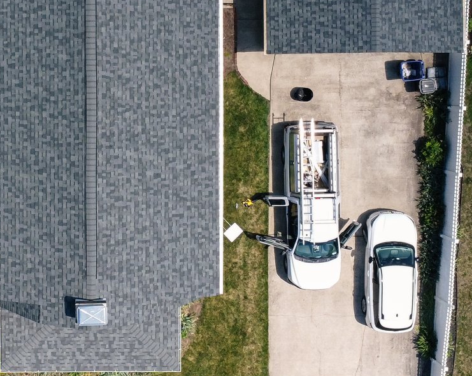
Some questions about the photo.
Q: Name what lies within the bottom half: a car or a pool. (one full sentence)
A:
There is a car within the bottom half.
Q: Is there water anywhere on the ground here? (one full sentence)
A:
No, there's no water in this view.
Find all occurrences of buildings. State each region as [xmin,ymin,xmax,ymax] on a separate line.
[262,0,468,53]
[0,0,223,373]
